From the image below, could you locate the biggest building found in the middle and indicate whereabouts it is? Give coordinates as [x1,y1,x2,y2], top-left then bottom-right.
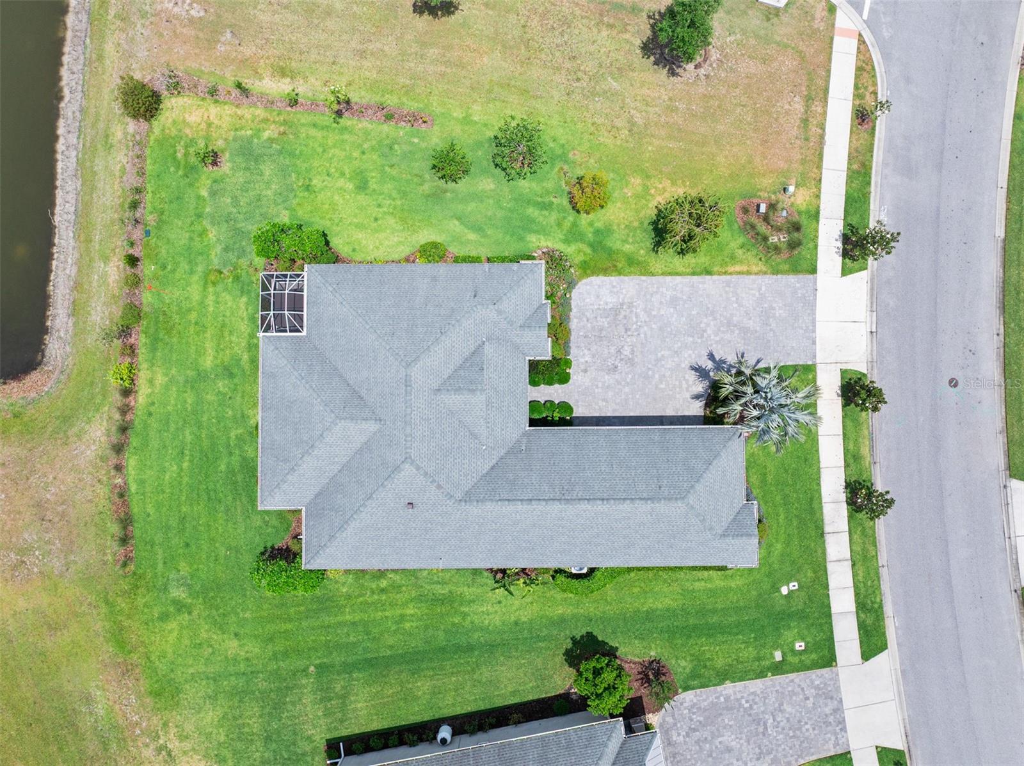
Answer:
[257,261,760,570]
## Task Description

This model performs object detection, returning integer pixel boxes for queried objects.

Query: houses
[327,707,667,766]
[257,261,760,570]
